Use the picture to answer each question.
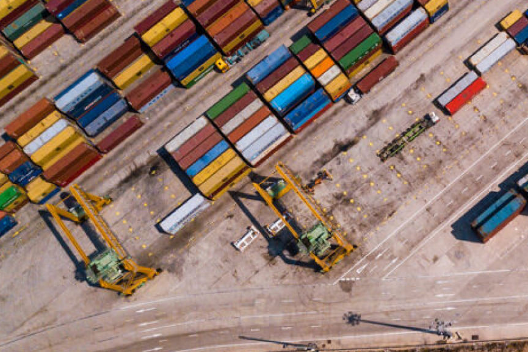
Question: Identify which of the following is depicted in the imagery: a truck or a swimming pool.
truck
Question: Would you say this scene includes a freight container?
Yes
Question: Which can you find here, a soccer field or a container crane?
container crane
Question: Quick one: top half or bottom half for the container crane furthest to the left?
bottom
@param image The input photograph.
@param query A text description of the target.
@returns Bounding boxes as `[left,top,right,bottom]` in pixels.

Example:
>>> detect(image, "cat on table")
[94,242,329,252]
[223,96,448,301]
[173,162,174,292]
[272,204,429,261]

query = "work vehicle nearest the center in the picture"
[304,167,331,190]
